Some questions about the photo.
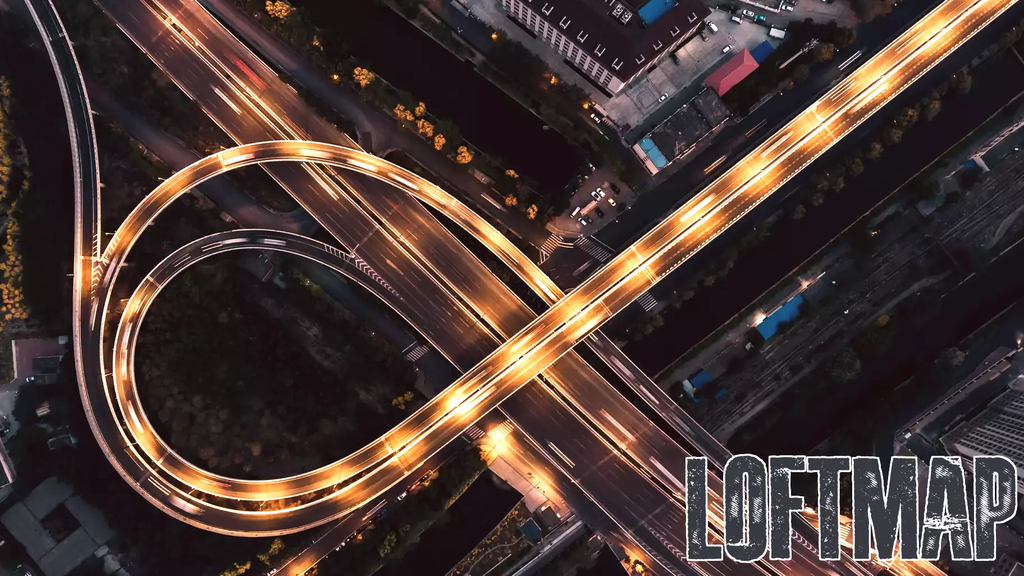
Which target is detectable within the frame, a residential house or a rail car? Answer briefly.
residential house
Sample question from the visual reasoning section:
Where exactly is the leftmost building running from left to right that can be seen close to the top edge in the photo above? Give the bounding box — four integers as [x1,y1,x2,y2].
[502,0,713,93]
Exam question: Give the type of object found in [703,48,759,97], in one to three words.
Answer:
house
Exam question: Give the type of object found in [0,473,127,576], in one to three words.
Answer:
house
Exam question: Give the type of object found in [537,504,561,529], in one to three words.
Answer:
building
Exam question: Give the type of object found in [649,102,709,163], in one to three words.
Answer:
building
